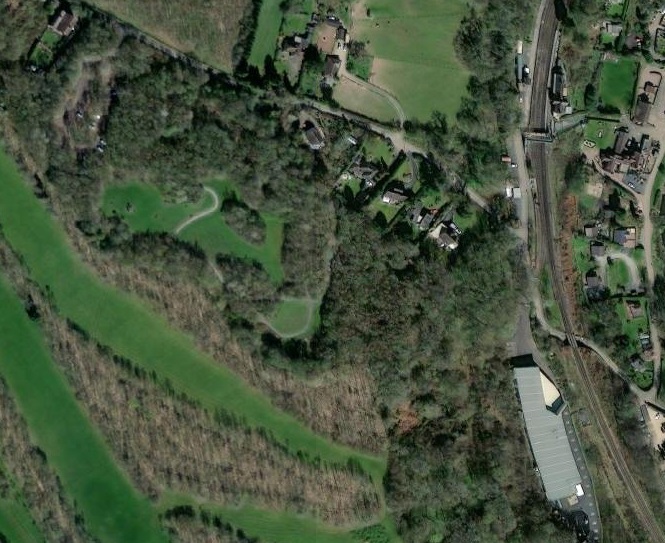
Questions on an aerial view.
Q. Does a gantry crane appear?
No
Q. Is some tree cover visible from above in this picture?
Yes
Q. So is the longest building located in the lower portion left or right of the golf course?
to its right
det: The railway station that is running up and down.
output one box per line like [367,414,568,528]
[527,0,557,128]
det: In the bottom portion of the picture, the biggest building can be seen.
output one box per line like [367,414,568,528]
[514,367,581,501]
